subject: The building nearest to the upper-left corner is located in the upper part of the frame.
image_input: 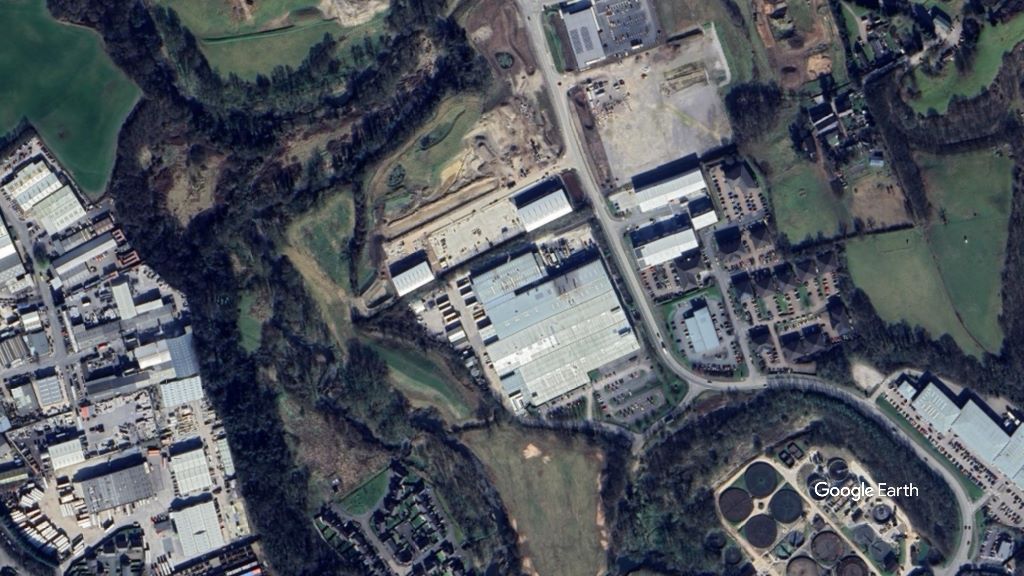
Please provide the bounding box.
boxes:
[5,160,62,212]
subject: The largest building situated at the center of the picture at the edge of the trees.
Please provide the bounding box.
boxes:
[473,252,639,417]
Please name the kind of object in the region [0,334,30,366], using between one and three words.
building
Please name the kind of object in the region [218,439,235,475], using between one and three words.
shed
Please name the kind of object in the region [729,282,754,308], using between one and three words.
building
